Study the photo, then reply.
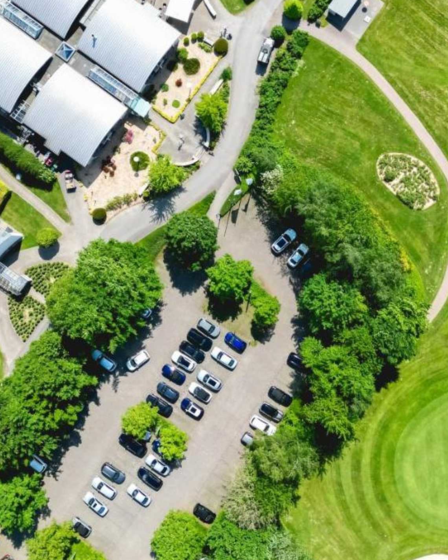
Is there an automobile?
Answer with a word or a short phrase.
Yes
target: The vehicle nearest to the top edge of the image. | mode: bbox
[257,36,274,63]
